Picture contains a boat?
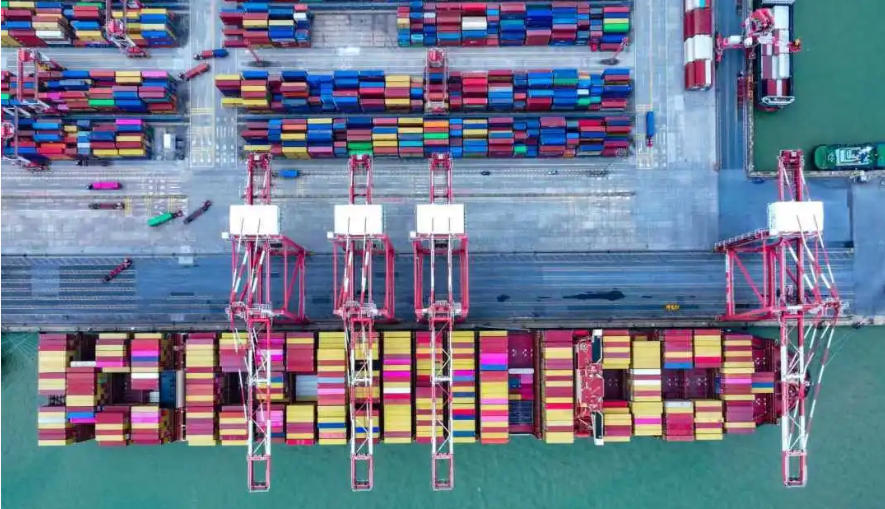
Yes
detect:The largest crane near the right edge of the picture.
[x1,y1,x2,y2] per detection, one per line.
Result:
[714,152,849,492]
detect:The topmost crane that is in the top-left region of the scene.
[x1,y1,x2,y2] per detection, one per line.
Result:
[103,0,150,53]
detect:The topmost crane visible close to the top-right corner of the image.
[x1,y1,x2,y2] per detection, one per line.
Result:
[716,9,800,60]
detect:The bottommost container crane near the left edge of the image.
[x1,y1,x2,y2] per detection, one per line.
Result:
[0,99,46,165]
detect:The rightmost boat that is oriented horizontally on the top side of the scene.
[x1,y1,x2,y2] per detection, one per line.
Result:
[812,145,874,170]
